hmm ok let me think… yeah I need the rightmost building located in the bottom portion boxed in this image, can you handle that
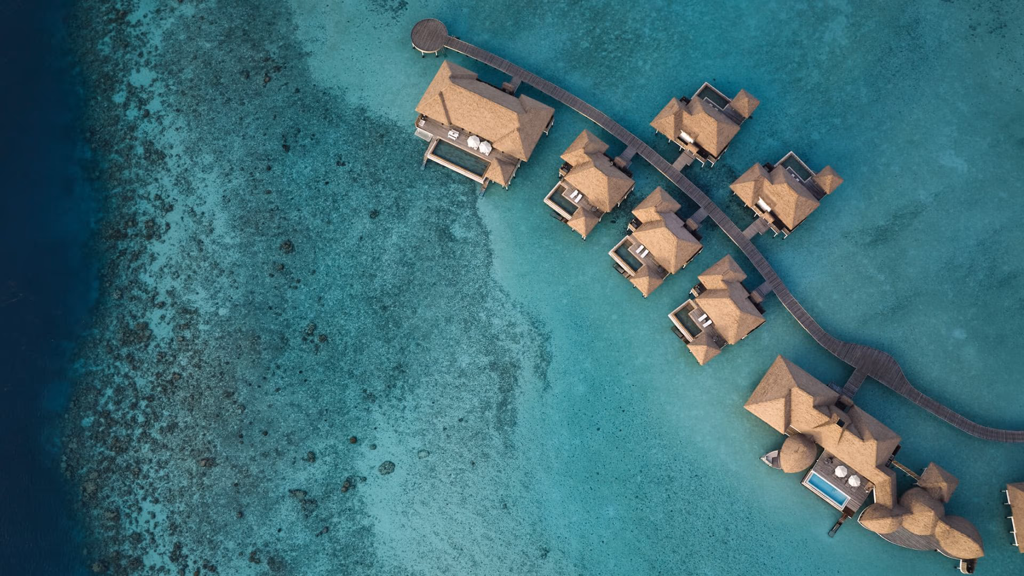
[996,483,1024,553]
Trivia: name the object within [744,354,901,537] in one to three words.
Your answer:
house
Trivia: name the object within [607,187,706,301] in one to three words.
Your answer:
house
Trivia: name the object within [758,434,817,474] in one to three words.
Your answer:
building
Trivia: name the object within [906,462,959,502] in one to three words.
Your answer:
shed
